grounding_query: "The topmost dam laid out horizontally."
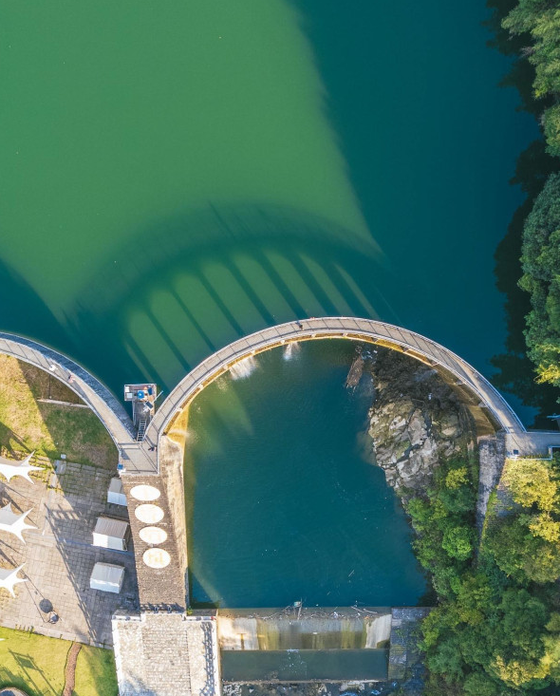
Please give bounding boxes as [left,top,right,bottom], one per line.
[145,316,519,439]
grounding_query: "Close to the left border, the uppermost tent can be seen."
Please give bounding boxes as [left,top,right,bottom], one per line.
[0,448,47,485]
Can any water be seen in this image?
Yes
